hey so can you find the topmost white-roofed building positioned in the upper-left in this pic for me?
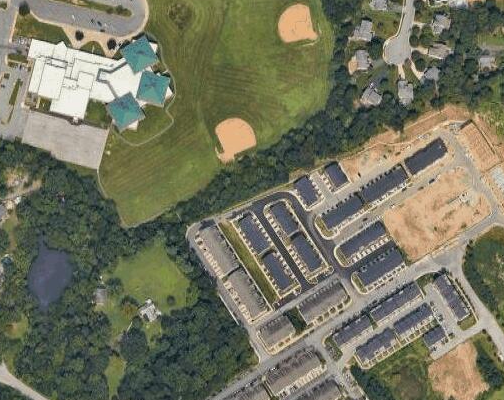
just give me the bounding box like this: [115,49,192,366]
[27,36,173,130]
